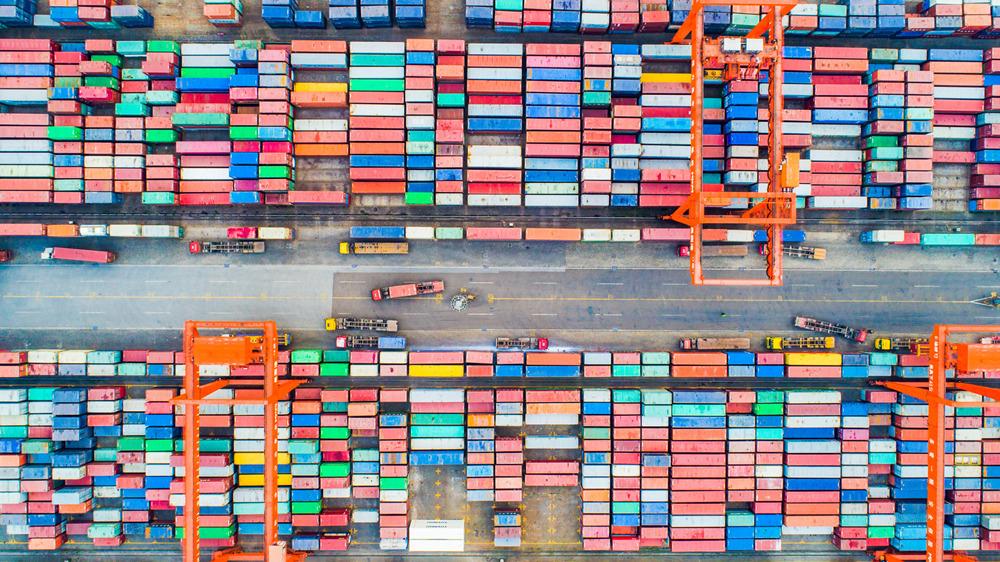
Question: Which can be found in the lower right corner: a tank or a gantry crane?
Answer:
gantry crane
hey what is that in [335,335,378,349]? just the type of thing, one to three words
vehicle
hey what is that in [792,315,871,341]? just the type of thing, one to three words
truck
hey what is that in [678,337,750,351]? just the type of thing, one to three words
vehicle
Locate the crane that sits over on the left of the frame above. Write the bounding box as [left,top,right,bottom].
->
[173,321,317,562]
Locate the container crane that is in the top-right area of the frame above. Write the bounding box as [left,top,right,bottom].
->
[660,0,799,287]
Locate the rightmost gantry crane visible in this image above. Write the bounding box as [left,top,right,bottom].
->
[867,325,1000,562]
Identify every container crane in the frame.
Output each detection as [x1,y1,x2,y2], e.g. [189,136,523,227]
[173,321,317,562]
[867,325,1000,562]
[660,0,799,287]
